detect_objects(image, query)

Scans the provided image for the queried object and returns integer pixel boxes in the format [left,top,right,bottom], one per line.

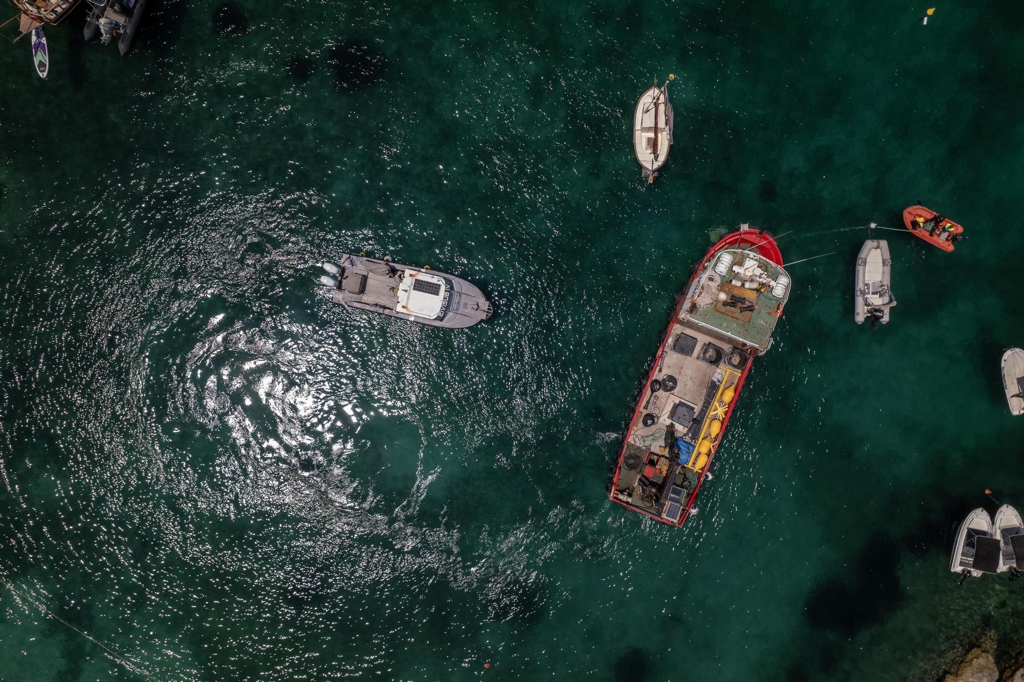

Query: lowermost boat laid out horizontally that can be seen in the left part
[320,252,493,329]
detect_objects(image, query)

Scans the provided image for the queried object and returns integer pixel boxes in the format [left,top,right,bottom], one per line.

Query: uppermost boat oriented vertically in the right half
[633,75,674,183]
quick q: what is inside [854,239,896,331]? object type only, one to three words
boat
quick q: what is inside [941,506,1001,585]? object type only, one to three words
boat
